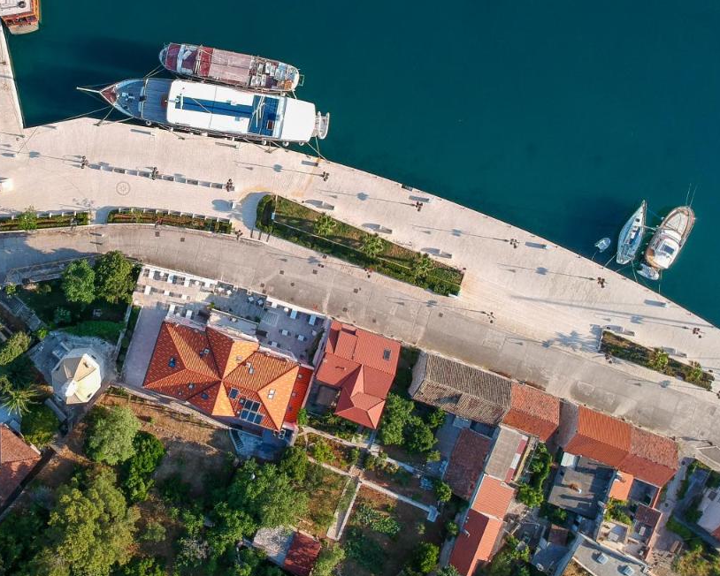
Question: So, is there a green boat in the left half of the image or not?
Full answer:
No, the scene shows no green boat in the left half of the image.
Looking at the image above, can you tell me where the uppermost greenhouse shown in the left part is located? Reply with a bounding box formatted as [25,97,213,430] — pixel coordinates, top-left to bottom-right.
[0,290,46,332]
